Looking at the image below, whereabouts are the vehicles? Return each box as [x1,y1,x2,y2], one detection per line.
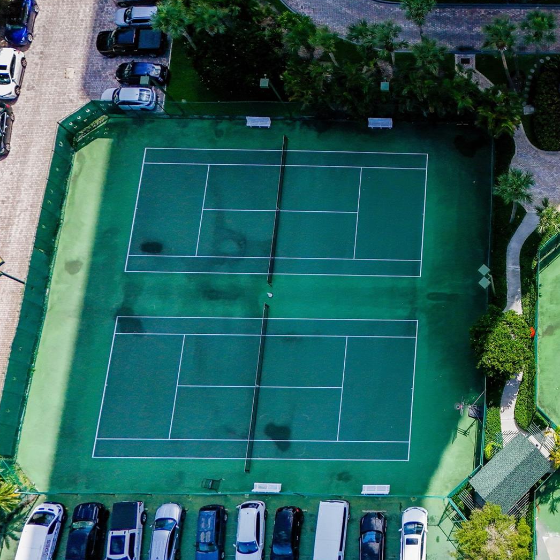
[149,503,187,560]
[0,49,29,99]
[233,502,270,560]
[116,4,167,31]
[103,87,161,115]
[11,502,70,560]
[398,508,429,560]
[99,29,169,60]
[0,105,18,155]
[11,0,44,43]
[117,62,172,89]
[194,505,230,560]
[113,0,167,9]
[314,500,351,560]
[110,502,150,560]
[355,513,388,560]
[269,508,305,560]
[67,505,110,560]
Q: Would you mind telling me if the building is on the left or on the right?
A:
right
